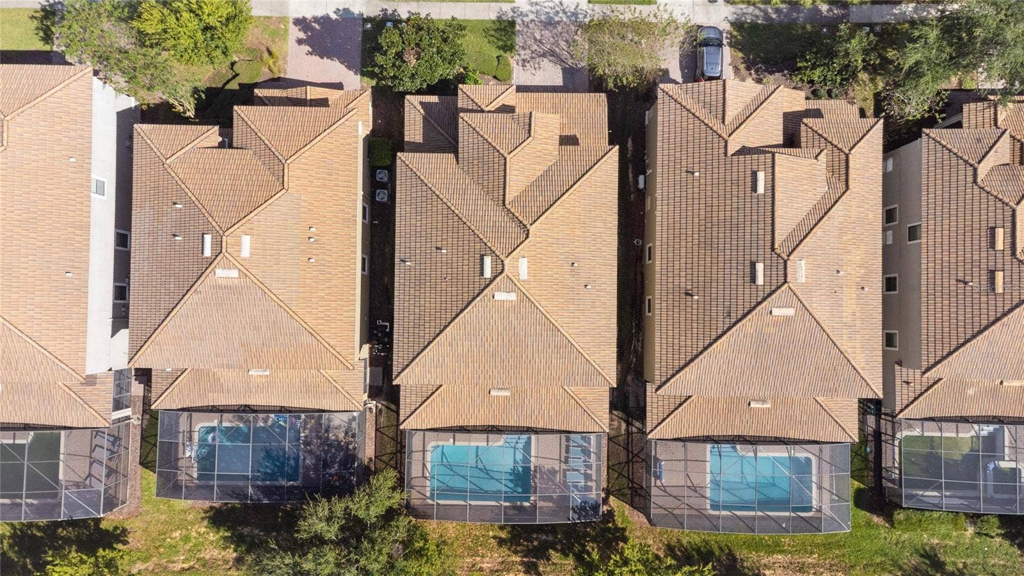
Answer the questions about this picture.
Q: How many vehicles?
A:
1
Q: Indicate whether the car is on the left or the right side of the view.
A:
right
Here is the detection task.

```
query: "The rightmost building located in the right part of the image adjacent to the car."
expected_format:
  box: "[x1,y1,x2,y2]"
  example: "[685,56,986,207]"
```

[643,79,885,444]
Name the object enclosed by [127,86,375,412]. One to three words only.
house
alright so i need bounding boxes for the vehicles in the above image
[697,25,728,82]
